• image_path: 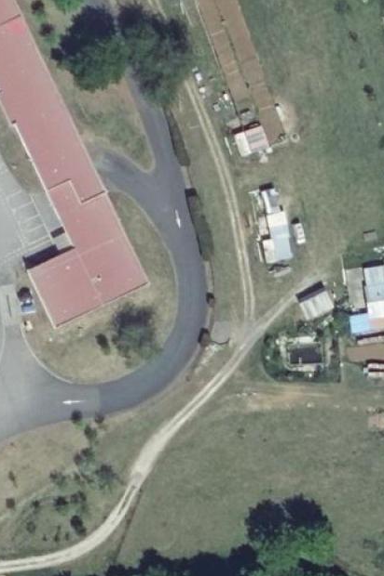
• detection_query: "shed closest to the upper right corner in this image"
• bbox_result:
[234,127,270,157]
